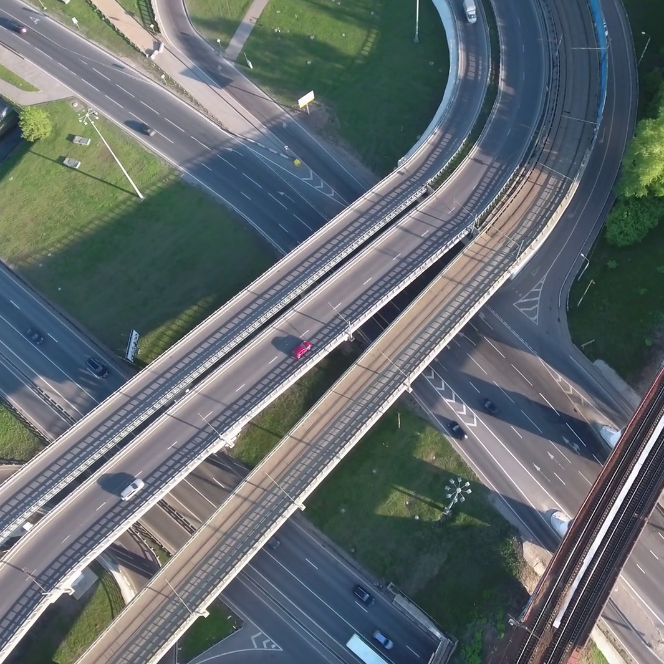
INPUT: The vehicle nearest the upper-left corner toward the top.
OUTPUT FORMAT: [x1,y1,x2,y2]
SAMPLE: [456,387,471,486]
[5,19,25,34]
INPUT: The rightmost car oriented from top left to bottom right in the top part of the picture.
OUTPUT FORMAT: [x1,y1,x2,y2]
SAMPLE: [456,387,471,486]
[133,118,155,136]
